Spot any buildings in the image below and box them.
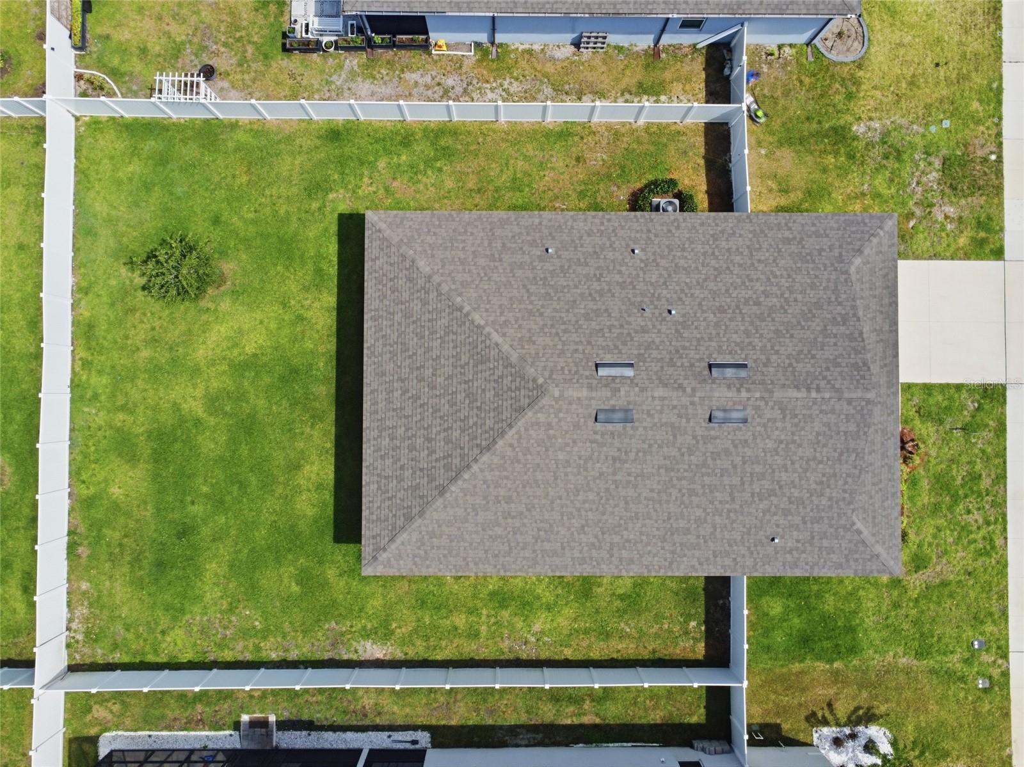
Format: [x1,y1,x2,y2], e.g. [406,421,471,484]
[341,0,861,48]
[225,742,837,767]
[362,209,902,578]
